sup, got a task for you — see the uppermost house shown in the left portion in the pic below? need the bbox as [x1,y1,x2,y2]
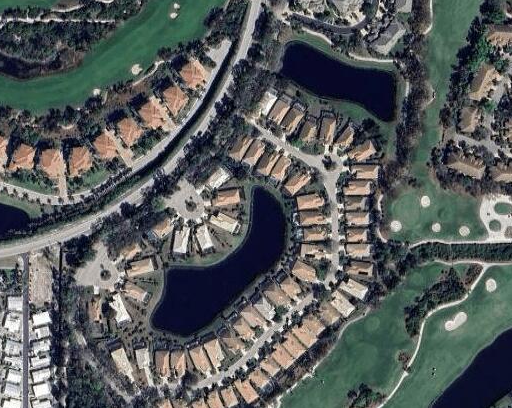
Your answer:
[179,60,208,88]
